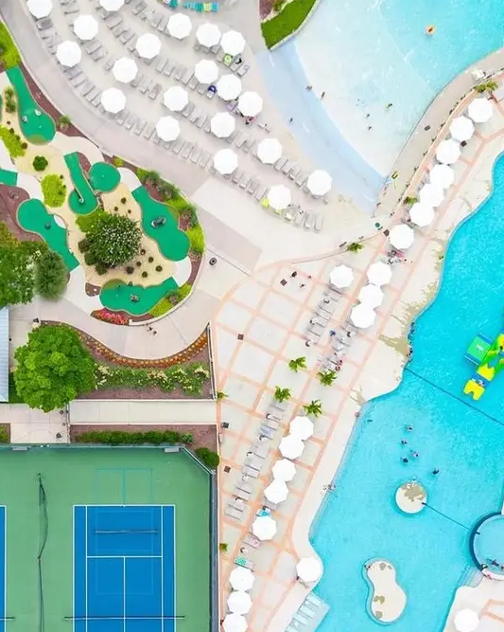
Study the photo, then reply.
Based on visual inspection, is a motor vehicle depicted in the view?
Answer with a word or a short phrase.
No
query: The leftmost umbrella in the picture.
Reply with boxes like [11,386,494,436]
[26,0,52,18]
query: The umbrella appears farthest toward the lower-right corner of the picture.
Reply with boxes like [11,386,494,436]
[452,607,479,632]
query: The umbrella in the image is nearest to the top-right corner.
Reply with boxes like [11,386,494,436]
[466,97,492,123]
